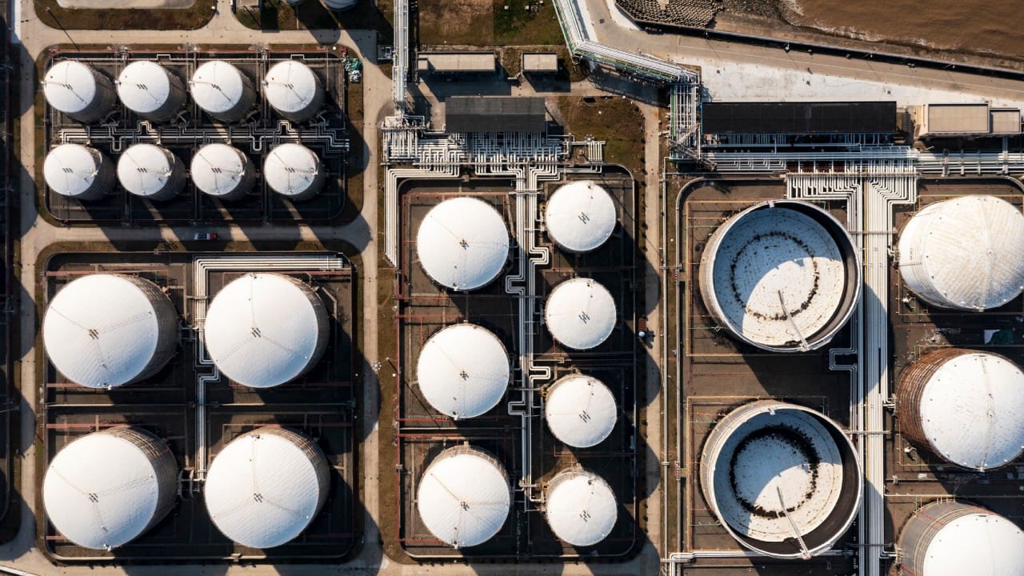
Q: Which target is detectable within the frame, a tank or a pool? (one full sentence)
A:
I can see a tank in this picture.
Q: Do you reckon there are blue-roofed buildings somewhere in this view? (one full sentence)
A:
No, there is no blue-roofed building in the image.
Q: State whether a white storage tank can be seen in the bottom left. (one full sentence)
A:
Yes, in the bottom left there is a white storage tank.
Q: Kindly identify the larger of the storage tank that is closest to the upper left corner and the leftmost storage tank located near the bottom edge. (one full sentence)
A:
The leftmost storage tank located near the bottom edge covers a greater area than the storage tank that is closest to the upper left corner.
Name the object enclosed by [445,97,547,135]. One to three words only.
shed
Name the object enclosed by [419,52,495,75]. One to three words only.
building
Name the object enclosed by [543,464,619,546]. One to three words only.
storage tank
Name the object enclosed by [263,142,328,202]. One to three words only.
storage tank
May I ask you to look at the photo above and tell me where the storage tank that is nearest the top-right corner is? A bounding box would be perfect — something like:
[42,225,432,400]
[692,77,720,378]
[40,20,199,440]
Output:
[895,195,1024,310]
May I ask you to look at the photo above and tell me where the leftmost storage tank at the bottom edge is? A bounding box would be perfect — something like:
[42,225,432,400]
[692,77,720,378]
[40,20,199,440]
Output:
[43,426,178,553]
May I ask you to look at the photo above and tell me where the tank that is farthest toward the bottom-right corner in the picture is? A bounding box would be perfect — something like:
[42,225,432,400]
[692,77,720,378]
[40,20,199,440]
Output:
[898,499,1024,576]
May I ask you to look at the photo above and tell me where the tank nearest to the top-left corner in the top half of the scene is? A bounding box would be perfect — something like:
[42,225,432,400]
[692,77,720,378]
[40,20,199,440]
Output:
[38,60,118,123]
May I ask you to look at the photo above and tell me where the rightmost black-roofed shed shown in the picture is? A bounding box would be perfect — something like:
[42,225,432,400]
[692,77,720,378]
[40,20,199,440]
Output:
[697,101,896,137]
